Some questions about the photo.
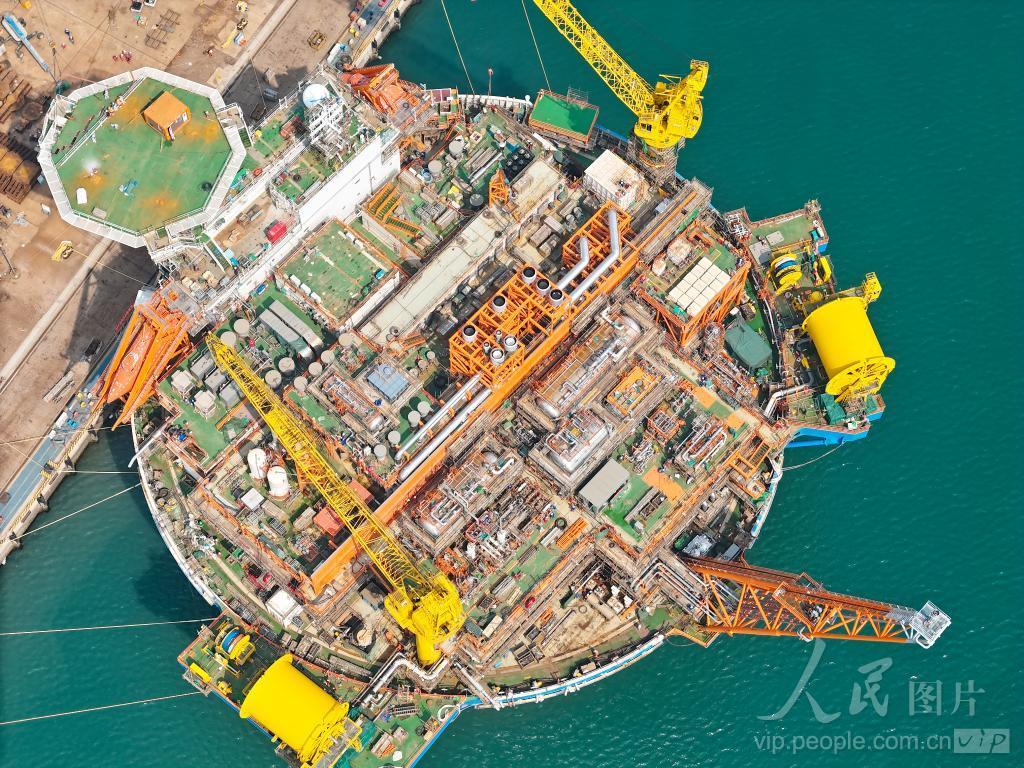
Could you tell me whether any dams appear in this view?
No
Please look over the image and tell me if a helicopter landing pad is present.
Yes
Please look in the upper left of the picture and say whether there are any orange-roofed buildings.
Yes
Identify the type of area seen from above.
port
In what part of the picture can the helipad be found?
top left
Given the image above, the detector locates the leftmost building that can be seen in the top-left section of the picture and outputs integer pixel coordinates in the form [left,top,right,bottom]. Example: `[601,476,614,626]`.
[140,91,190,144]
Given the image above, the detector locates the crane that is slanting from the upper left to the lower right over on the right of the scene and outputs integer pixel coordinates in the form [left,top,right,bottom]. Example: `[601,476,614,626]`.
[534,0,712,203]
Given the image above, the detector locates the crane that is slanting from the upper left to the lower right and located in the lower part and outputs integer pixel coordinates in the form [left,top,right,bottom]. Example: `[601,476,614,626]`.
[200,321,467,644]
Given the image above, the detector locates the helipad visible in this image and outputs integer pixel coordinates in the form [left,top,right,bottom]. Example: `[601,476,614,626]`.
[35,65,257,264]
